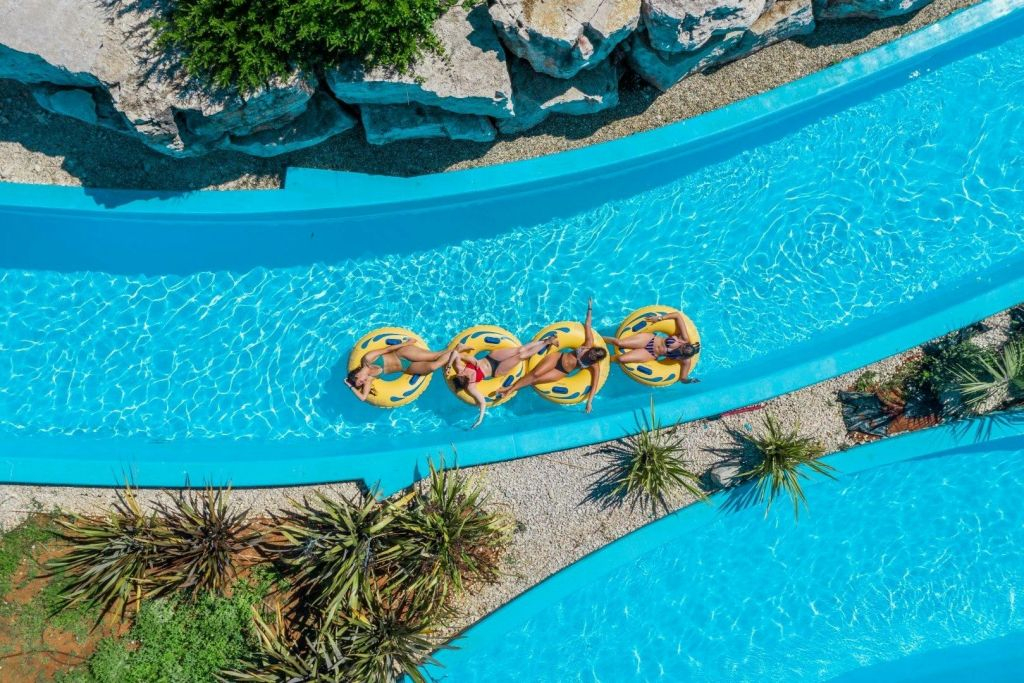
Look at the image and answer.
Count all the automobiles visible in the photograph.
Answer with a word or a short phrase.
0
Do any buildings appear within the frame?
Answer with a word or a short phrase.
No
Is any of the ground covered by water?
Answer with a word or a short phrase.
Yes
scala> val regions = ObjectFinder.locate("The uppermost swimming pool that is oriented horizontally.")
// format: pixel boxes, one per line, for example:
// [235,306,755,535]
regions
[0,9,1024,462]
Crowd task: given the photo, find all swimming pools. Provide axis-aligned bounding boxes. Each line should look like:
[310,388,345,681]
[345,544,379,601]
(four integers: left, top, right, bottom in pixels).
[0,9,1024,462]
[454,435,1024,683]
